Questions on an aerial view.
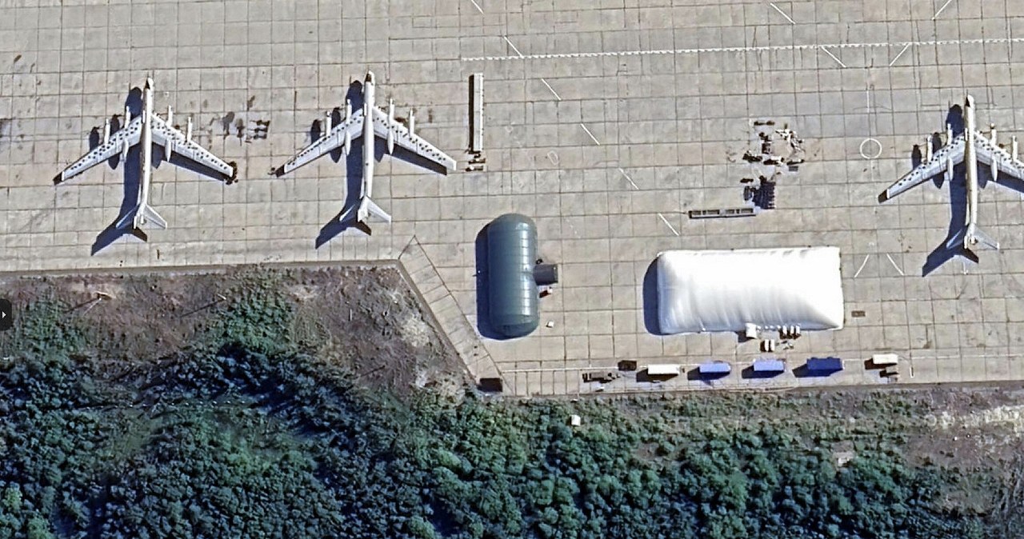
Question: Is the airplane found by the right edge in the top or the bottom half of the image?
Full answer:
You can find the airplane found by the right edge in the top half.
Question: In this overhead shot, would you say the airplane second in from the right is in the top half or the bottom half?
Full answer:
You can find the airplane second in from the right in the top half.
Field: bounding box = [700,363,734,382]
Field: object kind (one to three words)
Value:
vehicle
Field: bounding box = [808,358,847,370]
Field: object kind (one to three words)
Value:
vehicle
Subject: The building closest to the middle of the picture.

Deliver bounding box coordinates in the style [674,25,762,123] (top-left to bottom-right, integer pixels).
[479,214,557,337]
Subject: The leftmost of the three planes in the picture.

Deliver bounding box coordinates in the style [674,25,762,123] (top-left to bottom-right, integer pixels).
[65,76,235,229]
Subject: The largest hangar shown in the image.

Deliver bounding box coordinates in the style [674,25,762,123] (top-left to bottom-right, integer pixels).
[658,246,846,339]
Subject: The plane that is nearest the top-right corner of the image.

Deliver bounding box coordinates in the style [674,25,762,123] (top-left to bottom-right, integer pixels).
[889,94,1024,247]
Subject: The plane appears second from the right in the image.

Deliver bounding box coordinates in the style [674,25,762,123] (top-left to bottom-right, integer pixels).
[286,71,457,222]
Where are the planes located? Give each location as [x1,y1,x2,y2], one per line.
[286,71,457,222]
[65,76,235,229]
[889,94,1024,247]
